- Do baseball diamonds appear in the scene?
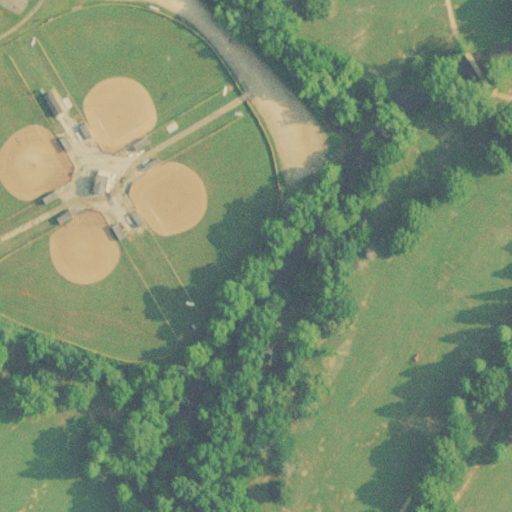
Yes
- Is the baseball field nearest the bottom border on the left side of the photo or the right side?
left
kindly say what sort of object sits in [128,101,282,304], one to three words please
baseball field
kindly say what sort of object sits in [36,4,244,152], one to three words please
baseball field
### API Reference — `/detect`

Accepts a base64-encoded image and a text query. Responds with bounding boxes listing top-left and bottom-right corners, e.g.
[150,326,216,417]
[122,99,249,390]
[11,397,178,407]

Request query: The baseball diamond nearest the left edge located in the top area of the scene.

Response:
[0,54,76,223]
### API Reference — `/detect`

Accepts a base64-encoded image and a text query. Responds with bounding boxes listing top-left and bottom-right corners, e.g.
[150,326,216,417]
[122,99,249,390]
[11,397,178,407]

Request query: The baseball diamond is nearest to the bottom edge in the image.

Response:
[0,208,182,363]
